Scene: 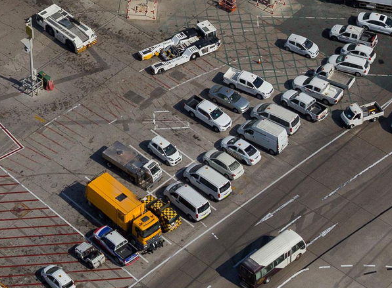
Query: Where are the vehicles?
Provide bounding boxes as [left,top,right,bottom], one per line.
[184,164,233,203]
[89,224,142,268]
[354,9,392,38]
[224,66,275,99]
[237,119,289,155]
[142,192,188,235]
[309,59,361,92]
[340,40,377,64]
[206,82,252,115]
[283,32,319,58]
[250,101,302,136]
[87,168,165,252]
[293,73,346,106]
[38,265,78,288]
[74,240,106,270]
[101,134,165,188]
[236,221,314,288]
[279,88,330,122]
[138,14,220,74]
[36,0,99,51]
[183,94,232,131]
[200,149,246,180]
[325,51,371,79]
[146,134,183,165]
[328,20,380,46]
[337,99,388,130]
[218,135,264,166]
[163,182,213,222]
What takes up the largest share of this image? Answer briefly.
paved ground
